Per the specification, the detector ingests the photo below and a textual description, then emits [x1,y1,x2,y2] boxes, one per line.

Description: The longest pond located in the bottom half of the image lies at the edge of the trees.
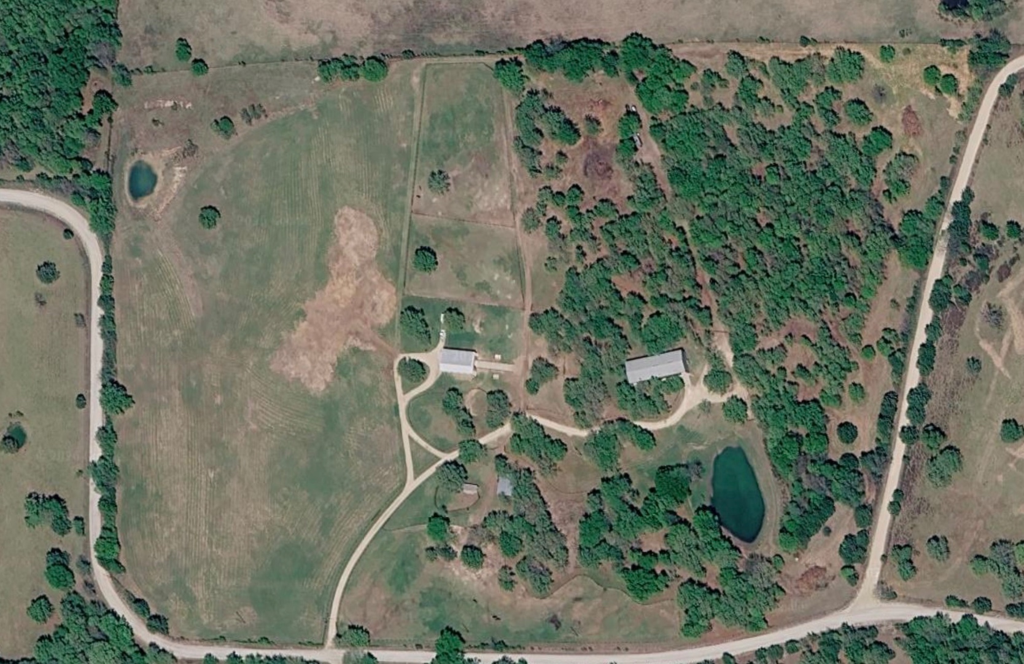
[712,447,765,541]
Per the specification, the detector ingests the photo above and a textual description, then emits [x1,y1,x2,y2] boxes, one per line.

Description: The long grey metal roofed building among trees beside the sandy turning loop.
[625,349,686,383]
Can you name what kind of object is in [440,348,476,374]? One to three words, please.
house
